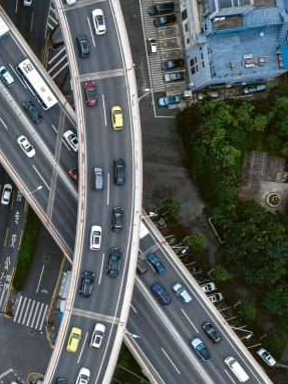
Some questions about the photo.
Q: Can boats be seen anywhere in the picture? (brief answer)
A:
No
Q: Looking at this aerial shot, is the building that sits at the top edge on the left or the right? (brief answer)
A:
right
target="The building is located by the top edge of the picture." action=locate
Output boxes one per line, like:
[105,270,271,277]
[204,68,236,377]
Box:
[178,0,288,89]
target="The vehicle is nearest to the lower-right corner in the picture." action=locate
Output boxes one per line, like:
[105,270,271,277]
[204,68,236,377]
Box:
[255,347,276,366]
